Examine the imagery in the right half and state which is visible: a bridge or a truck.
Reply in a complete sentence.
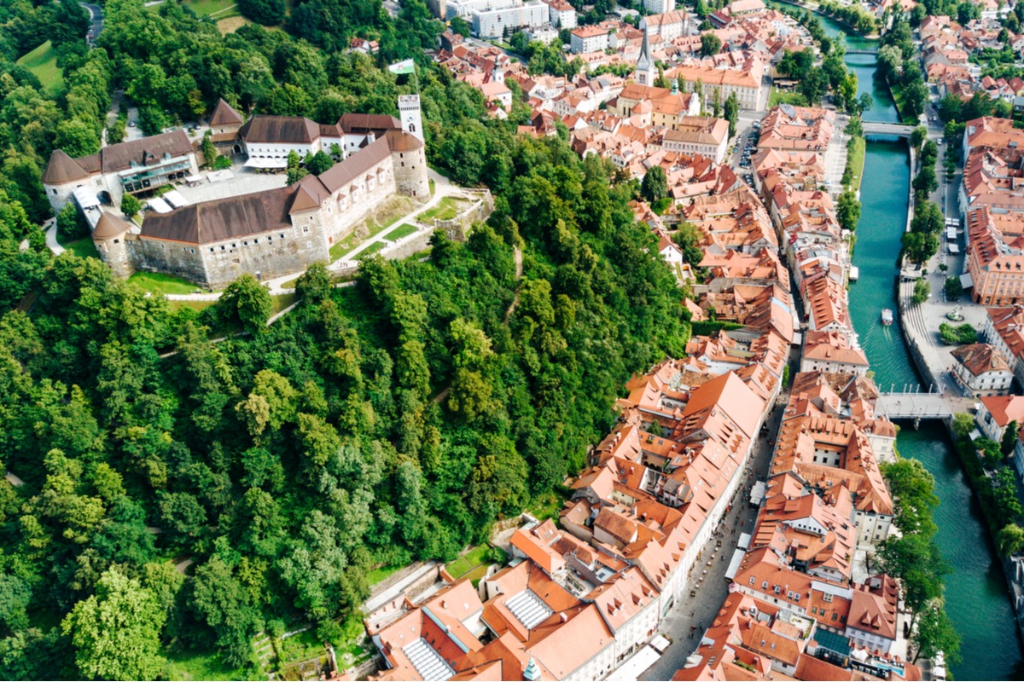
Looking in the right half, you will find a bridge.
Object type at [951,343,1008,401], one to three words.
house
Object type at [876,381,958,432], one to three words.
bridge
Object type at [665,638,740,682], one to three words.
house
